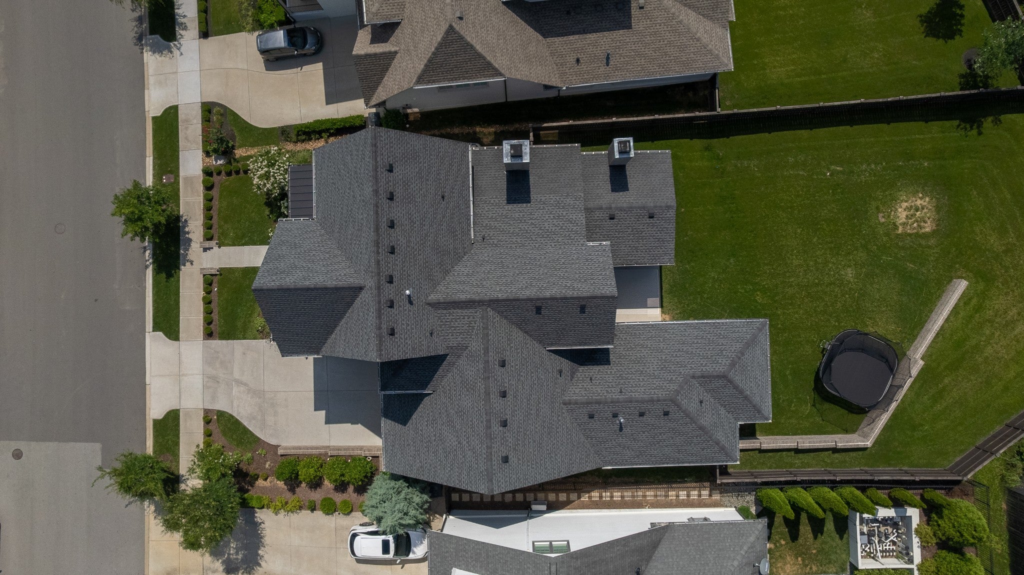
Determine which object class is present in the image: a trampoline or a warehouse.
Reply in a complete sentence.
I can see a trampoline in this picture.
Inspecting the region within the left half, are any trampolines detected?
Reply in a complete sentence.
No, there is no trampoline within the left half.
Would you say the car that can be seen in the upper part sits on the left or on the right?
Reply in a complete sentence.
The car that can be seen in the upper part is on the left side of the image.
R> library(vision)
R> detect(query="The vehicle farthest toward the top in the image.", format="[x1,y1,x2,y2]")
[255,25,323,63]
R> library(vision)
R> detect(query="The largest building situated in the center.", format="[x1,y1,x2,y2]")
[253,127,774,495]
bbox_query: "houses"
[253,127,774,495]
[426,505,770,575]
[274,0,736,112]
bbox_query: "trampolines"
[815,328,912,418]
